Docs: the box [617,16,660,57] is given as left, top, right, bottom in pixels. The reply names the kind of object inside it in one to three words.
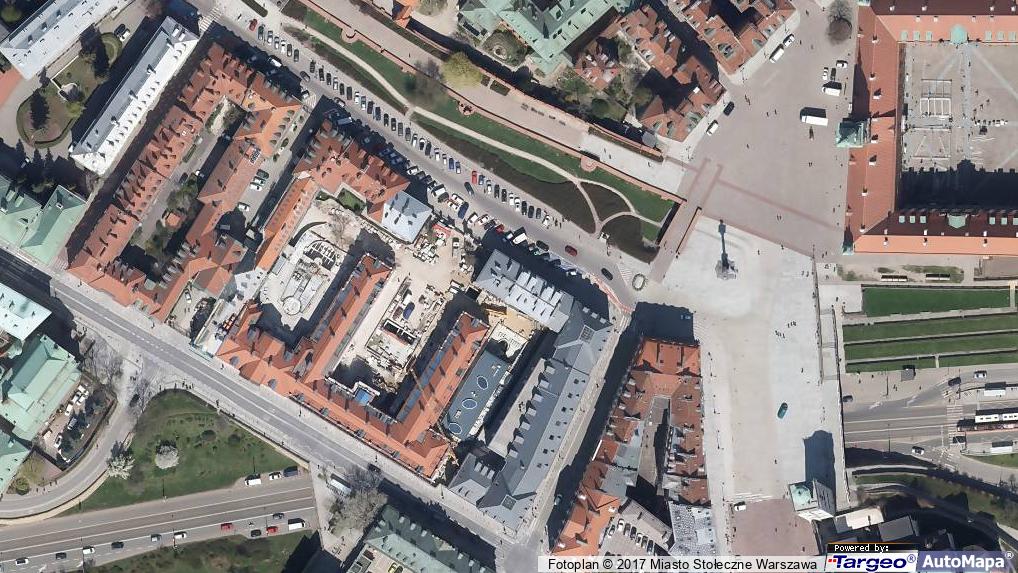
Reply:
house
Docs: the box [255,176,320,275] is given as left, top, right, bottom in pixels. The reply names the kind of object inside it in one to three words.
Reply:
building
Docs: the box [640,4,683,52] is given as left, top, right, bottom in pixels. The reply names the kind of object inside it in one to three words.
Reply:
house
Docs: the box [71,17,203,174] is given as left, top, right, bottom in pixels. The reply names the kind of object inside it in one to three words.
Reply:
building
